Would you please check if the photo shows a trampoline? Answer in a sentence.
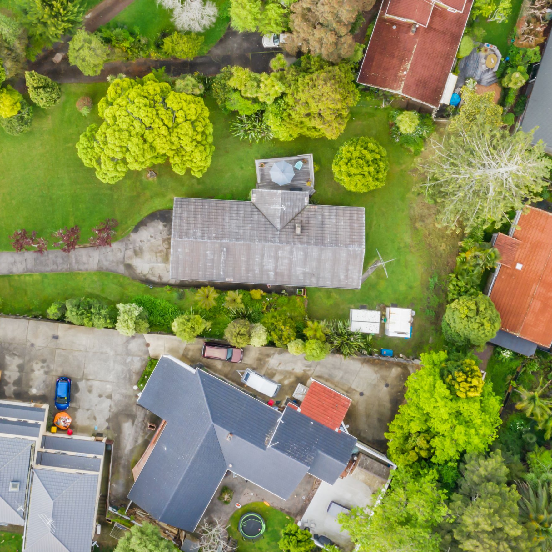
Yes, the picture does show a trampoline.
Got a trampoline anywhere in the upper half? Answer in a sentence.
No, no trampoline is visible in the upper half.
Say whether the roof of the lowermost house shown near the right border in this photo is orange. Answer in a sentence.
Yes, the roof of the lowermost house shown near the right border appears orange.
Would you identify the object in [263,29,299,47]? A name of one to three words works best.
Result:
car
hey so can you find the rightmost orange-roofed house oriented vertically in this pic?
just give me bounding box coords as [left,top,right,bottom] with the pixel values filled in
[483,204,552,356]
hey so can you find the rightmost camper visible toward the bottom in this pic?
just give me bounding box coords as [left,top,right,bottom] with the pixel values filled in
[239,369,284,401]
